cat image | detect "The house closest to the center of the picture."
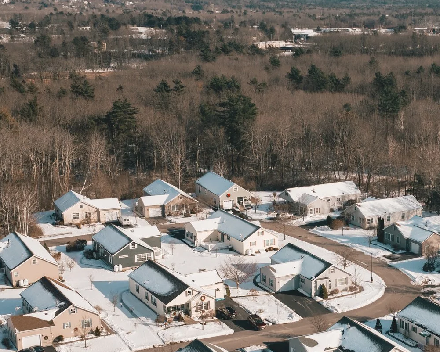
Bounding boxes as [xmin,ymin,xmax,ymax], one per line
[193,172,249,209]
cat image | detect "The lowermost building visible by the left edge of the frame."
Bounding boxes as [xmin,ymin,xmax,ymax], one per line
[6,276,102,350]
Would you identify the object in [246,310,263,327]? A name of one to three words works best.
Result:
car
